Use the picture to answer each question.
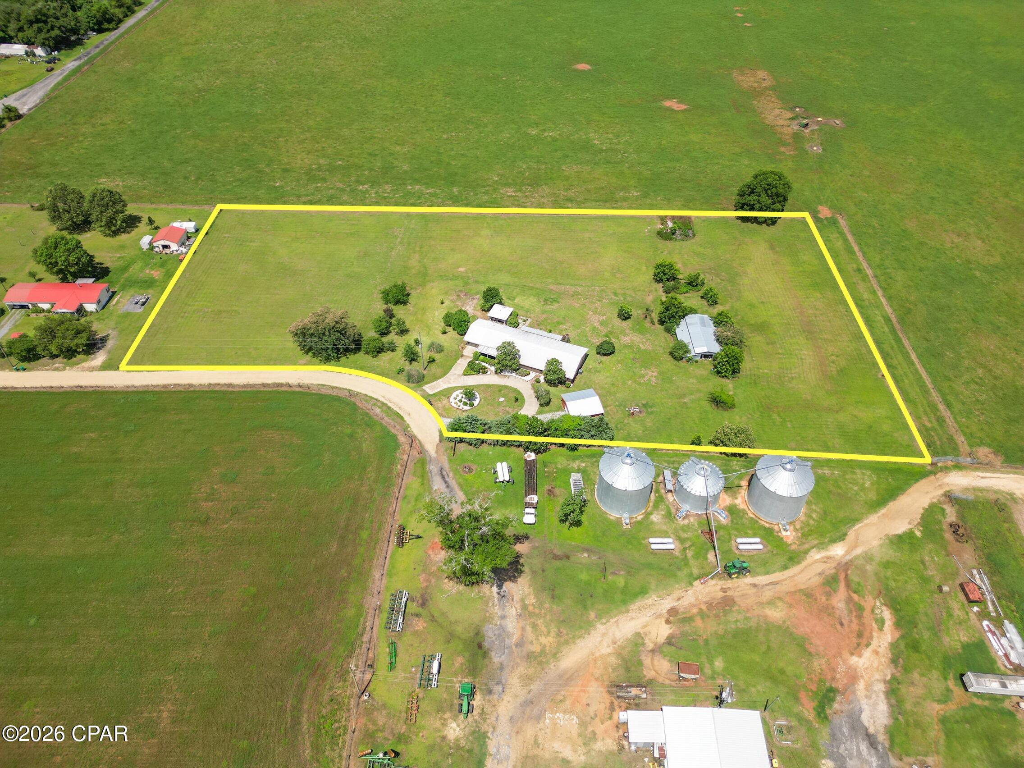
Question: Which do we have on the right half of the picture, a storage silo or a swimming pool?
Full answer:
There is a storage silo on the right half of the picture.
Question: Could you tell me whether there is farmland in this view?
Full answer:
Yes, farmland can be seen from above here.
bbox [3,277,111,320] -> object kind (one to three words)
house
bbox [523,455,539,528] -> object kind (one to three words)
vehicle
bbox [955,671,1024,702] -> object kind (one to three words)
trailer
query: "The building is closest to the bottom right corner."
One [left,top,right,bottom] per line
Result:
[661,705,771,768]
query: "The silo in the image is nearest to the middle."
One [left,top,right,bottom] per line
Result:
[593,446,657,519]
